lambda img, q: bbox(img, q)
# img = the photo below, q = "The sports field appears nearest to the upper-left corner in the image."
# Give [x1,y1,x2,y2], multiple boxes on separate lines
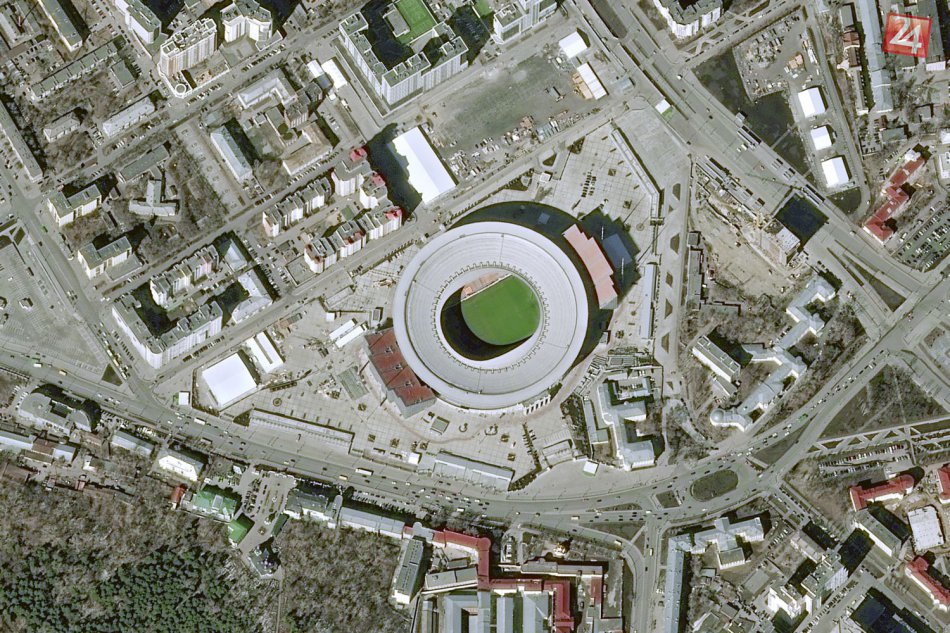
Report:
[392,0,436,45]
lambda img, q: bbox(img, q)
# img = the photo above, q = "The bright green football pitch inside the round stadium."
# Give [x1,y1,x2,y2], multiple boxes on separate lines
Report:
[443,278,539,359]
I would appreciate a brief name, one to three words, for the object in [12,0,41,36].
house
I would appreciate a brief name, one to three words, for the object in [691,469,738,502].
roundabout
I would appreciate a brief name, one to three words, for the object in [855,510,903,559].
building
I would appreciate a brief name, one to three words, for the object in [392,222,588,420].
stadium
